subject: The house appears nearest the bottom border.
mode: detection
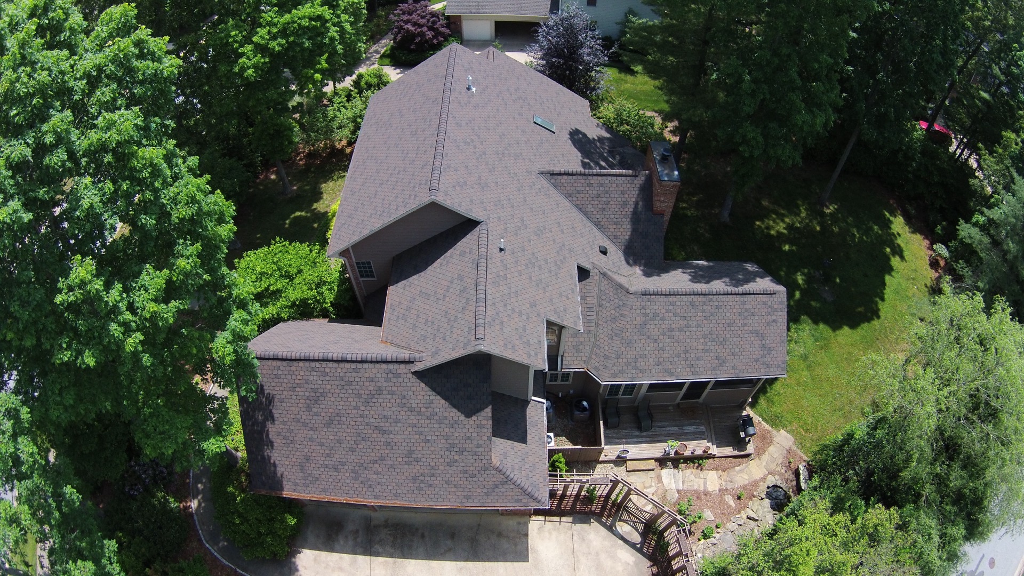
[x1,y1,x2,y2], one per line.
[247,43,788,515]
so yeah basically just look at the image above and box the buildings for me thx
[442,0,557,41]
[247,43,788,515]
